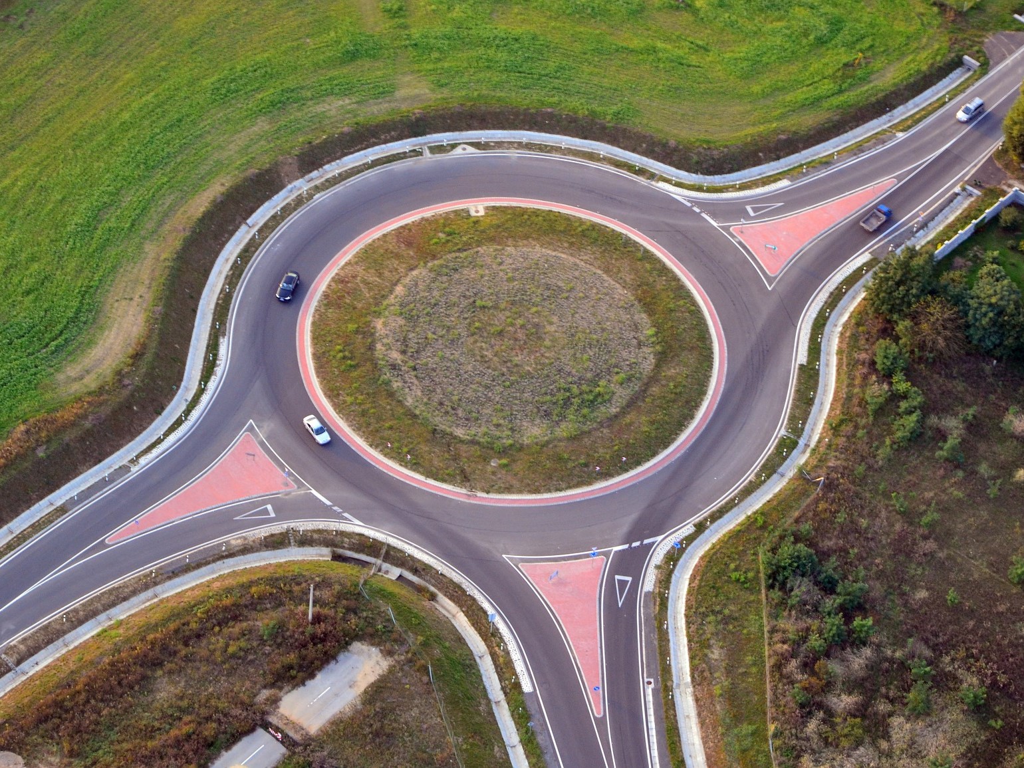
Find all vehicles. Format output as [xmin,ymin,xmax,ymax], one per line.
[276,271,299,298]
[302,414,331,444]
[859,205,893,232]
[956,97,984,122]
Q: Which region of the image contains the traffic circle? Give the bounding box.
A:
[244,165,778,548]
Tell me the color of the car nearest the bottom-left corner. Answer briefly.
white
